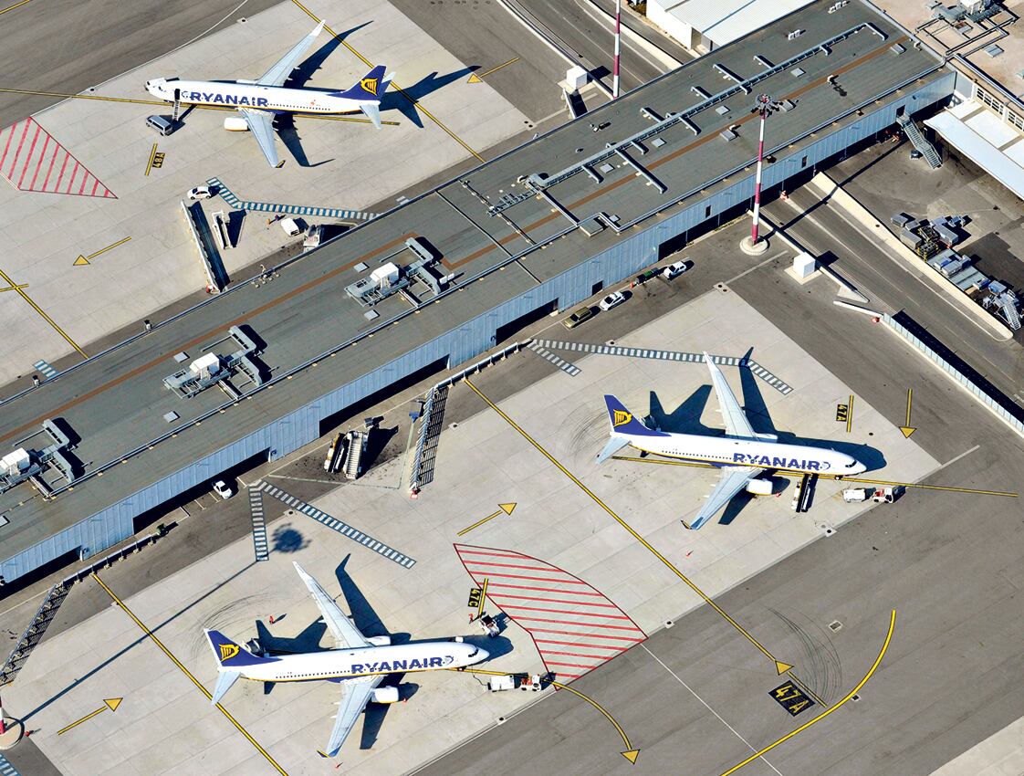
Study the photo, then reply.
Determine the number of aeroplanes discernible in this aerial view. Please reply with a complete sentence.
I count 3 aeroplanes.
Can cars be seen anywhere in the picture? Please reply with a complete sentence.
Yes, looking at the shot, I can spot a car.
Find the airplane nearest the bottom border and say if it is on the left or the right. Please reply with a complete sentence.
The airplane nearest the bottom border is on the left side of the image.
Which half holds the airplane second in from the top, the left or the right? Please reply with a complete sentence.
The airplane second in from the top sits on the right side.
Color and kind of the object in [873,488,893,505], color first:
white work vehicle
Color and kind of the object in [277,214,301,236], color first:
white vehicle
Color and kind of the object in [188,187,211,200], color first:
white vehicle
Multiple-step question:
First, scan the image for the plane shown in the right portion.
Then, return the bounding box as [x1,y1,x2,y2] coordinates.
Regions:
[597,351,866,531]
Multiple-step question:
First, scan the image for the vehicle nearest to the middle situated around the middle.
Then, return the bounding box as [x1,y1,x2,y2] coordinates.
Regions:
[566,309,596,329]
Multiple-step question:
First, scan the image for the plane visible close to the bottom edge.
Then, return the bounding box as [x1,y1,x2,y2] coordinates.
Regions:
[205,560,488,756]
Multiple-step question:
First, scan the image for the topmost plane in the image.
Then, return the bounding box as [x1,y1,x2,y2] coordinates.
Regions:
[151,20,394,167]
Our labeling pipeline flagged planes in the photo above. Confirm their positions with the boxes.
[205,560,488,756]
[151,20,394,167]
[597,351,866,531]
